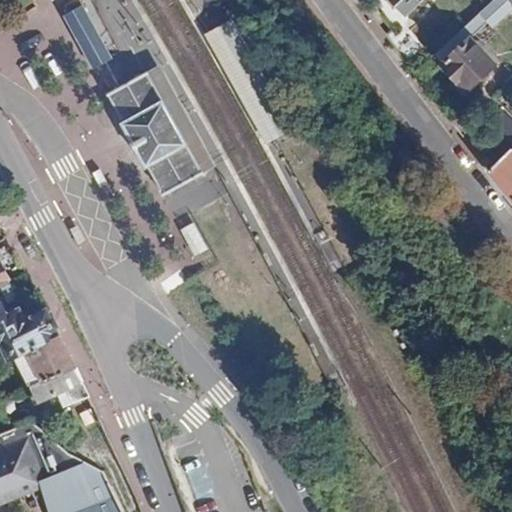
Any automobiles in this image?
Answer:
Yes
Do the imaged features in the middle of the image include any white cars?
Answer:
No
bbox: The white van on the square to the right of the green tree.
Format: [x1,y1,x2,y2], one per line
[44,51,64,76]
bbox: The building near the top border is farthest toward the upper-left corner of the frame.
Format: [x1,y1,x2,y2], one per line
[62,6,124,90]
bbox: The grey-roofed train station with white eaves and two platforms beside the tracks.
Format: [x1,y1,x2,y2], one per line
[106,0,357,406]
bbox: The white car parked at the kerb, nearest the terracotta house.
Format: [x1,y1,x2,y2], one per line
[487,189,506,210]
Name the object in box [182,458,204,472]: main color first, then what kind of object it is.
white car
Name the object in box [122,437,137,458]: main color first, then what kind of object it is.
white car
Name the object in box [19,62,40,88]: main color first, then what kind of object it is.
white vehicle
